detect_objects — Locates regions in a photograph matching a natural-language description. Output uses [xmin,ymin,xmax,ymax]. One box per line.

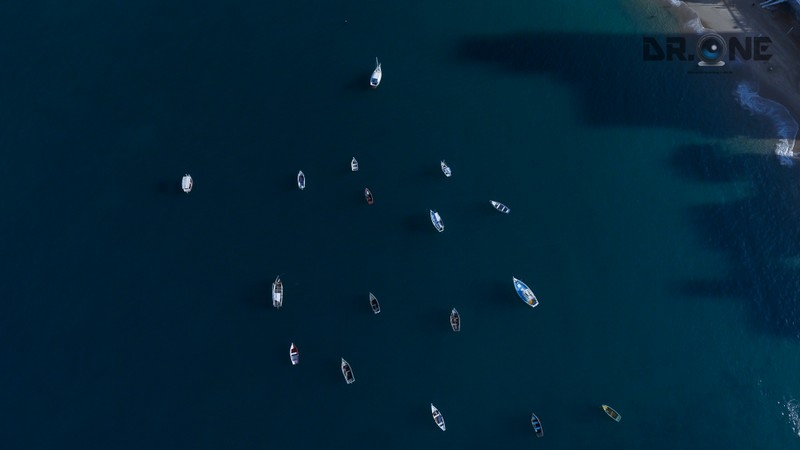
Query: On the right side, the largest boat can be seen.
[513,277,539,308]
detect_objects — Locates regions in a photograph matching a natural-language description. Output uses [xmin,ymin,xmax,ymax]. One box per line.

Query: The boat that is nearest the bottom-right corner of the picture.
[602,405,622,422]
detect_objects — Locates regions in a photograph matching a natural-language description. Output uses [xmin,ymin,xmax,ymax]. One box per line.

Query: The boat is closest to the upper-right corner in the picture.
[489,199,510,213]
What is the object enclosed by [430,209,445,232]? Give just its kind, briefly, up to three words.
boat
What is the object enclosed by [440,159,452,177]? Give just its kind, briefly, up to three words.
boat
